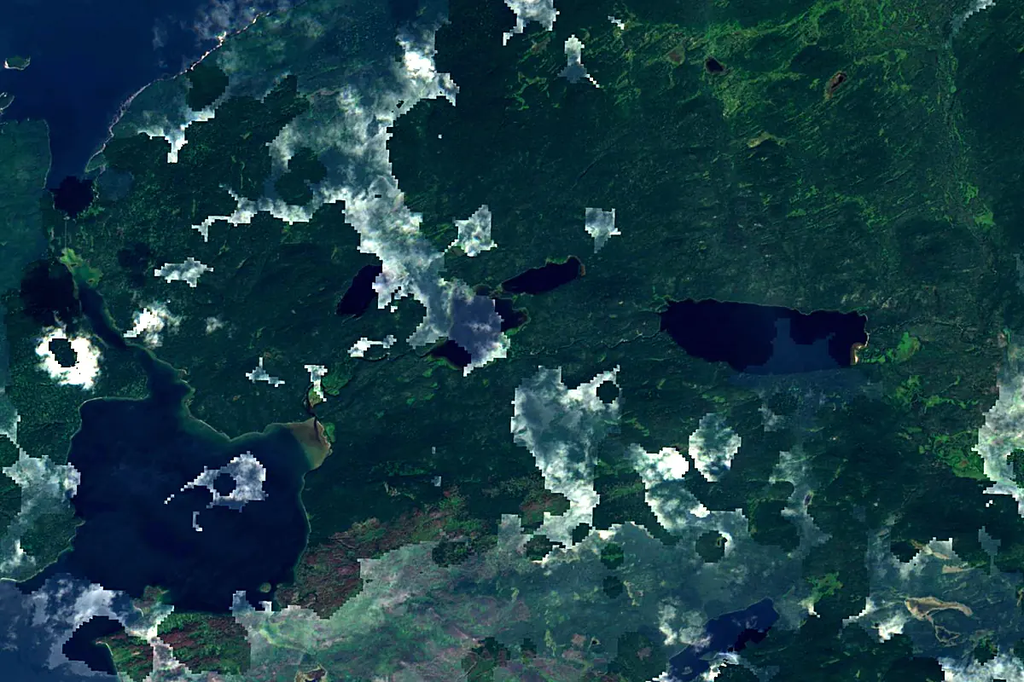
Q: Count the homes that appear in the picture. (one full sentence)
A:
I count no homes.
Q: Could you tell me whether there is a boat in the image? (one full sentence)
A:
No, the scene contains no boat.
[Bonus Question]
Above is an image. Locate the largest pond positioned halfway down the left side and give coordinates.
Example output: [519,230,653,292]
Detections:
[18,258,82,328]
